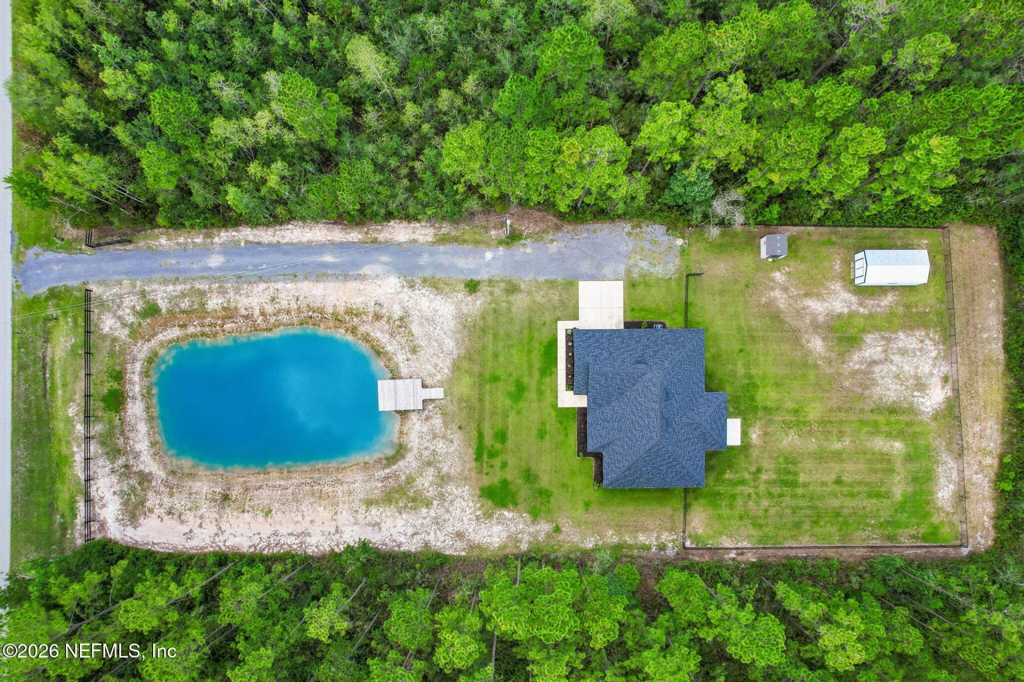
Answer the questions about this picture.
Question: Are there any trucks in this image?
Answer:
No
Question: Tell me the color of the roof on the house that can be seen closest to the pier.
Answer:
blue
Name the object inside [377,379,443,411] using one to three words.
pier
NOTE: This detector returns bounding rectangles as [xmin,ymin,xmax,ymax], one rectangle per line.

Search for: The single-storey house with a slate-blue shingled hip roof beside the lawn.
[573,328,727,488]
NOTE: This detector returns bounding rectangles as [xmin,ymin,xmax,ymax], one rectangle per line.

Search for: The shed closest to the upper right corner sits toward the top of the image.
[854,250,931,286]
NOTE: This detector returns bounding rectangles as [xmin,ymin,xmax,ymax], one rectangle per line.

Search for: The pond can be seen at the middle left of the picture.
[159,329,396,468]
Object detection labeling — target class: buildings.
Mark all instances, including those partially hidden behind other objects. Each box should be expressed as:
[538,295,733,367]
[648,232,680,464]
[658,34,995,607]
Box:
[573,328,727,488]
[854,250,931,286]
[761,234,788,259]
